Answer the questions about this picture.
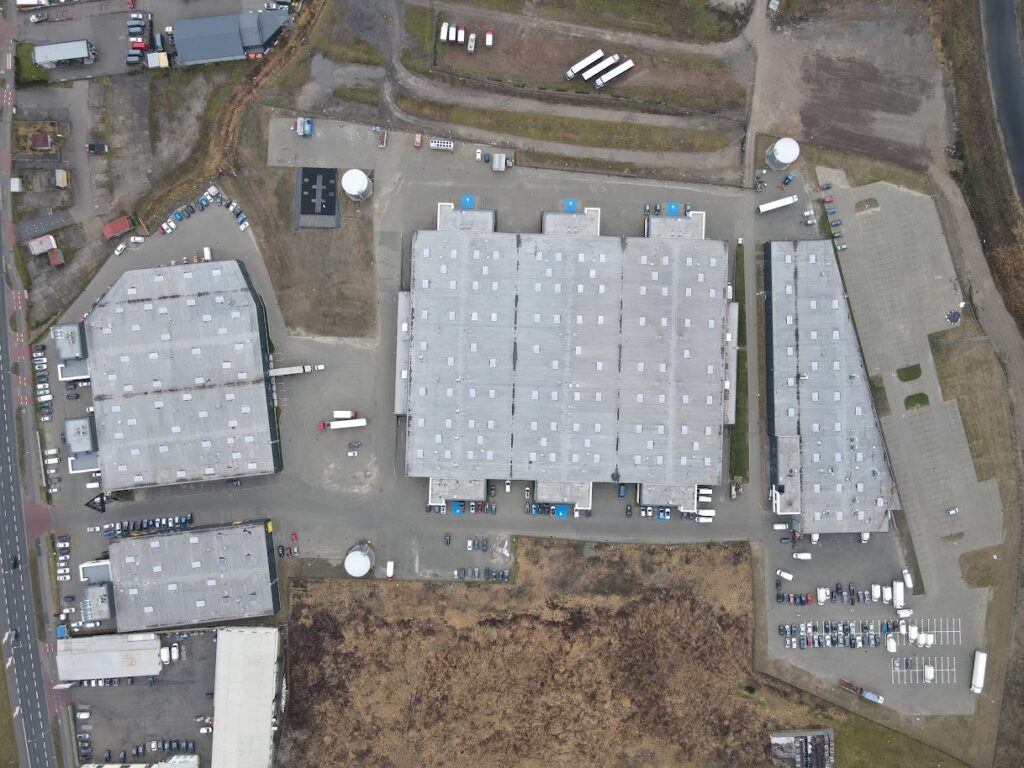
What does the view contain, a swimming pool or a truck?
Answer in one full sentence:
Of the two, only a truck appears.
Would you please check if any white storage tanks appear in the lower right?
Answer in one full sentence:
No, the scene shows no white storage tank in the lower right.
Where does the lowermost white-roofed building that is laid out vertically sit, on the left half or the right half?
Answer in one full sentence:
It is on the left.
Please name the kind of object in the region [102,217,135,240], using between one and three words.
shed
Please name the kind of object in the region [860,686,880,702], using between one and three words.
vehicle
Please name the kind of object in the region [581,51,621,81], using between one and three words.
truck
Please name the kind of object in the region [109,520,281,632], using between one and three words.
building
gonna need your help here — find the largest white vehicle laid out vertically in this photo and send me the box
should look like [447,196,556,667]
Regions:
[970,649,987,693]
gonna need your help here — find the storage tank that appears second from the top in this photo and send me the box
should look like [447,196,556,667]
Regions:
[342,169,376,205]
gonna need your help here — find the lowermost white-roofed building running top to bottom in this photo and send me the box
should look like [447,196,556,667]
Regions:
[212,623,283,768]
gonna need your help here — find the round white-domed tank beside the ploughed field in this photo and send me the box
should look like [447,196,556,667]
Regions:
[762,137,800,174]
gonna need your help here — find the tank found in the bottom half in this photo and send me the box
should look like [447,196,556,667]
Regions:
[344,542,379,577]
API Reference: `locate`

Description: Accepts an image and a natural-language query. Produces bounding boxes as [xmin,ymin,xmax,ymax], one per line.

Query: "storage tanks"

[762,137,800,174]
[342,169,376,205]
[344,542,379,577]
